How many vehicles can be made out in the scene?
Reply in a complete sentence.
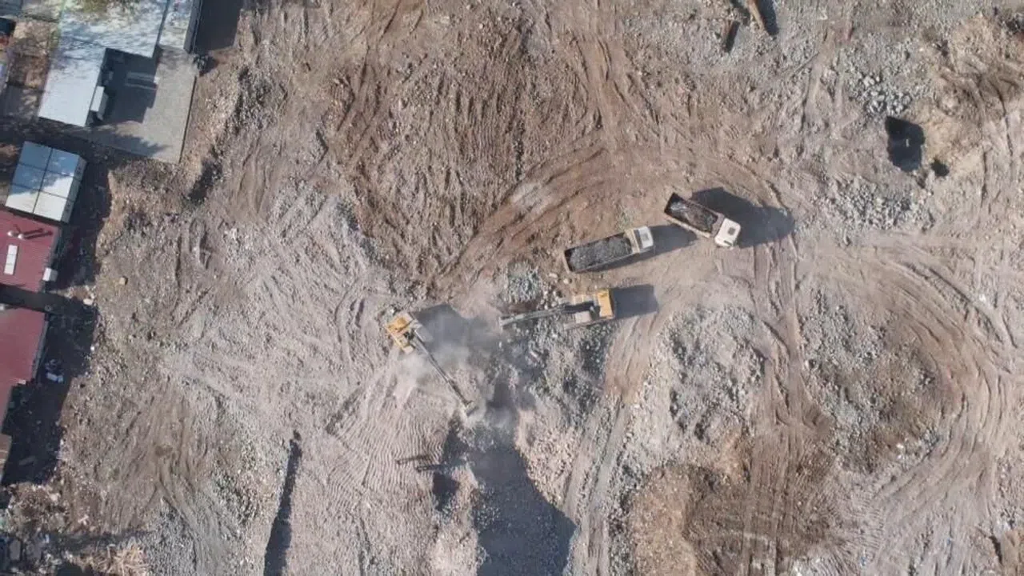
In total, 4 vehicles can be seen.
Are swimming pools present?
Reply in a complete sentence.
No, there isn't any swimming pool down there.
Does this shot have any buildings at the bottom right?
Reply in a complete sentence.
No, at the bottom right there is no building.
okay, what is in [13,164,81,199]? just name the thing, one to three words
building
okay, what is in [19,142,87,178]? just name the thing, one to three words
building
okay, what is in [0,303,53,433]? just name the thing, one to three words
house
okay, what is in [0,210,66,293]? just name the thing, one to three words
house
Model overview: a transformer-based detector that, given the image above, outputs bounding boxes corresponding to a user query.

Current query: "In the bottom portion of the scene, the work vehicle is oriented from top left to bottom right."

[380,308,481,423]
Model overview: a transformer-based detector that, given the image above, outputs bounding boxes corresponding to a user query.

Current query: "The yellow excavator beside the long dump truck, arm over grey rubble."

[499,287,618,331]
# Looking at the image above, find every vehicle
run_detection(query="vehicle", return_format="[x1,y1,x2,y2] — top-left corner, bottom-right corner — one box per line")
[663,187,746,250]
[499,287,618,331]
[380,308,481,423]
[562,223,658,273]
